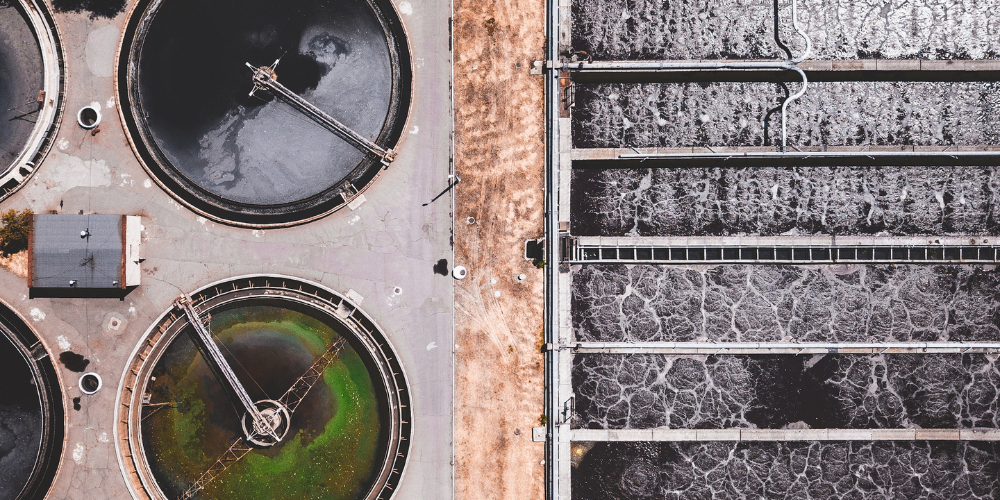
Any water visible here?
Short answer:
Yes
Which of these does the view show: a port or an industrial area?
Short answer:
industrial area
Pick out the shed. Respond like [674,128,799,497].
[22,214,143,290]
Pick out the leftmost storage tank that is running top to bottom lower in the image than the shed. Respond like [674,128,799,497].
[0,300,67,500]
